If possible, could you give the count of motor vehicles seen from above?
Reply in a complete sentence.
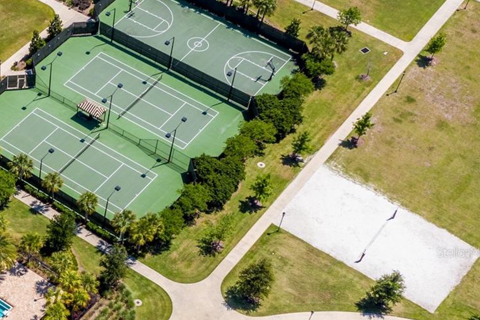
There are no motor vehicles in this view.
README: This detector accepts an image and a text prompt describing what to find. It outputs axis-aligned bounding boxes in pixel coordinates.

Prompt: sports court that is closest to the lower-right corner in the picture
[272,166,479,313]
